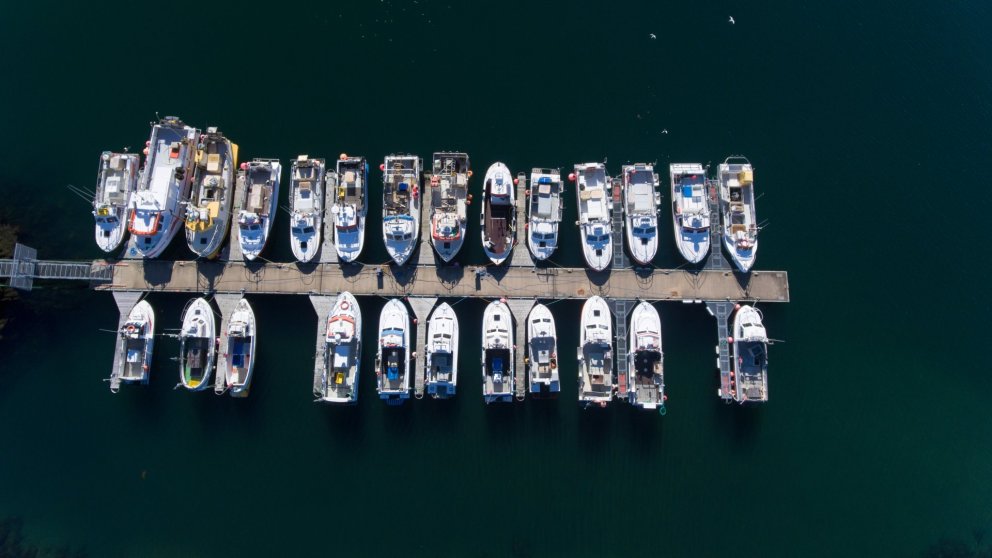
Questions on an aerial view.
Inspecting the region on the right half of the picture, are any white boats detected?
Yes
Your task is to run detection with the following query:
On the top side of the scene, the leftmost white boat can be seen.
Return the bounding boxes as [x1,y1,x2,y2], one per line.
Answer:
[72,149,139,253]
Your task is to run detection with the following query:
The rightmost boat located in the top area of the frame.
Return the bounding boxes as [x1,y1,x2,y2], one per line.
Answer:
[718,157,769,273]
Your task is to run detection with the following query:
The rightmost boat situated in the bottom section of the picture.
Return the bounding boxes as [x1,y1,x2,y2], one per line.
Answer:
[730,304,785,402]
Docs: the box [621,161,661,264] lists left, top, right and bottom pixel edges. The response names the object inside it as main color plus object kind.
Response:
white boat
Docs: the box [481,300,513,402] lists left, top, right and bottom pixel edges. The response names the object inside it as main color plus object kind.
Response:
white boat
